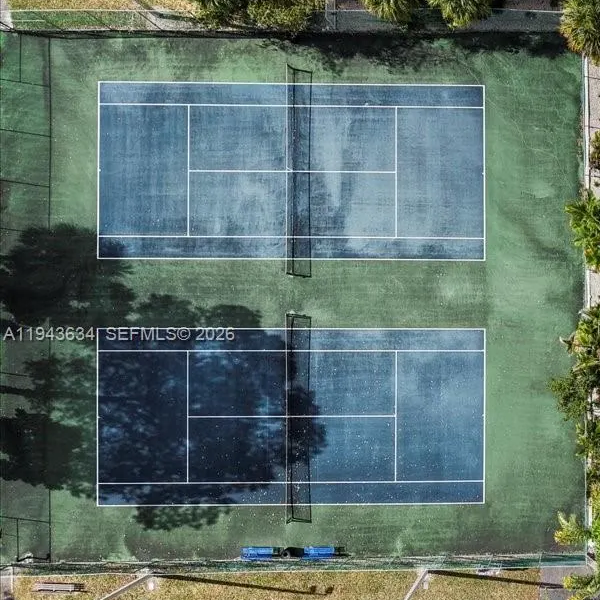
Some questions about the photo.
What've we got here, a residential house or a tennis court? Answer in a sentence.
The one in the frame is a tennis court.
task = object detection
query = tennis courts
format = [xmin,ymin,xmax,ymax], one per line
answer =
[96,312,485,526]
[97,62,485,275]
